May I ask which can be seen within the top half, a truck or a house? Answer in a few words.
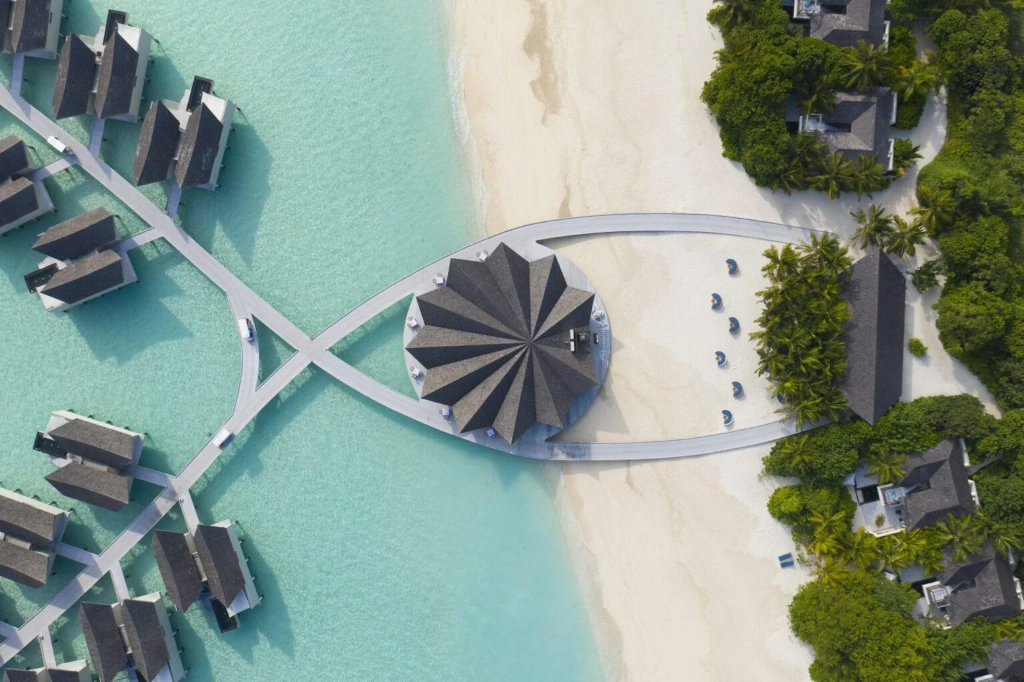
house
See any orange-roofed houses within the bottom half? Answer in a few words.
No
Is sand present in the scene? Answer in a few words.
Yes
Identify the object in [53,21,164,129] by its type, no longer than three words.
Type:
house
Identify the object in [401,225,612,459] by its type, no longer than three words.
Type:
building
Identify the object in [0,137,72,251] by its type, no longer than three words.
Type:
house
